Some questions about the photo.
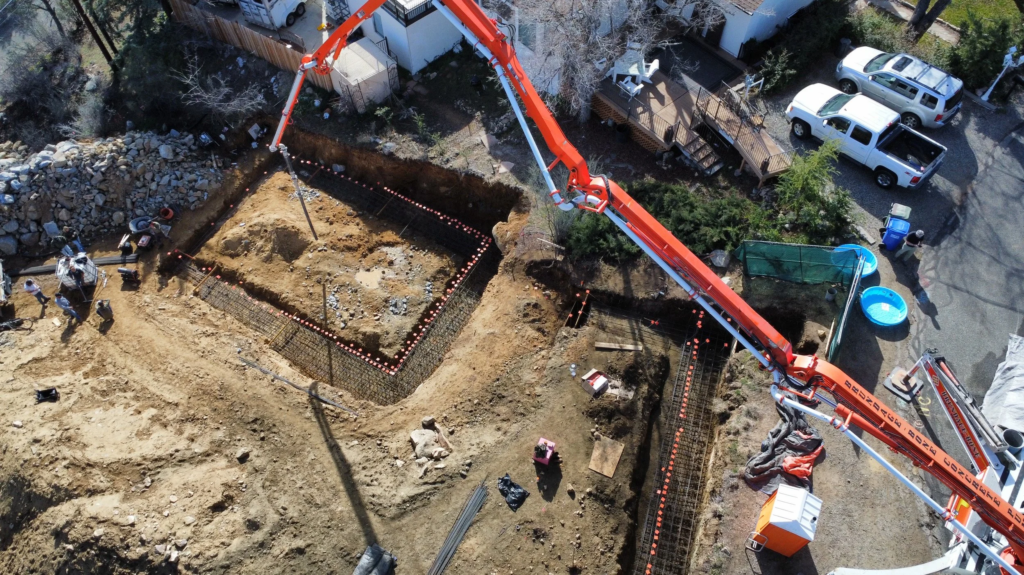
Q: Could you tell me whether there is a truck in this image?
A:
Yes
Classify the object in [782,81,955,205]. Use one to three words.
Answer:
truck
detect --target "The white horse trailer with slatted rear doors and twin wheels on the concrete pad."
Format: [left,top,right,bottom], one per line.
[238,0,308,29]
